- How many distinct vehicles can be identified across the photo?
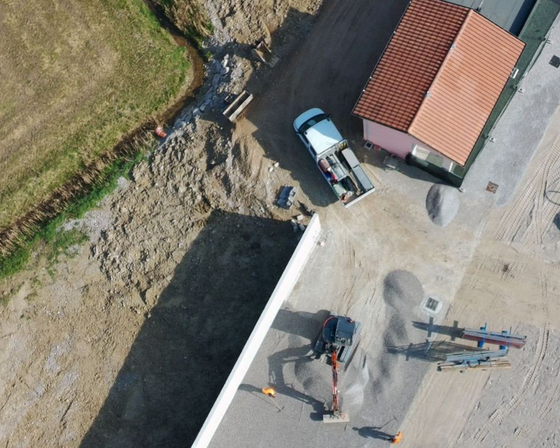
two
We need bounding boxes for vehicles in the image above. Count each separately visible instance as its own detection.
[312,312,364,420]
[296,106,375,206]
